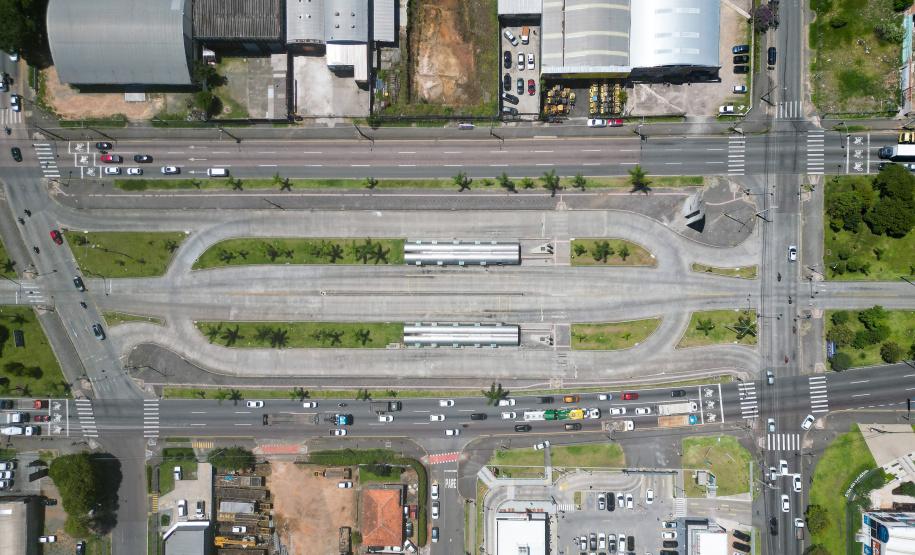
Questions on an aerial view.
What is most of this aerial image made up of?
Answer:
paved ground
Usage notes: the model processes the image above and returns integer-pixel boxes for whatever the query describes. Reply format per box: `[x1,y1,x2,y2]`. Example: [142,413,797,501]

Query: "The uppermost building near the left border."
[46,0,198,88]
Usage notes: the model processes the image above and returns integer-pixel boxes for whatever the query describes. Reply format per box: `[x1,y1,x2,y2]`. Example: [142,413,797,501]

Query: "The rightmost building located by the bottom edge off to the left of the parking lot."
[496,502,547,555]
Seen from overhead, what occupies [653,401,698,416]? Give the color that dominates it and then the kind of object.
white vehicle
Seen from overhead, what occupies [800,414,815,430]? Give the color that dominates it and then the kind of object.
white car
